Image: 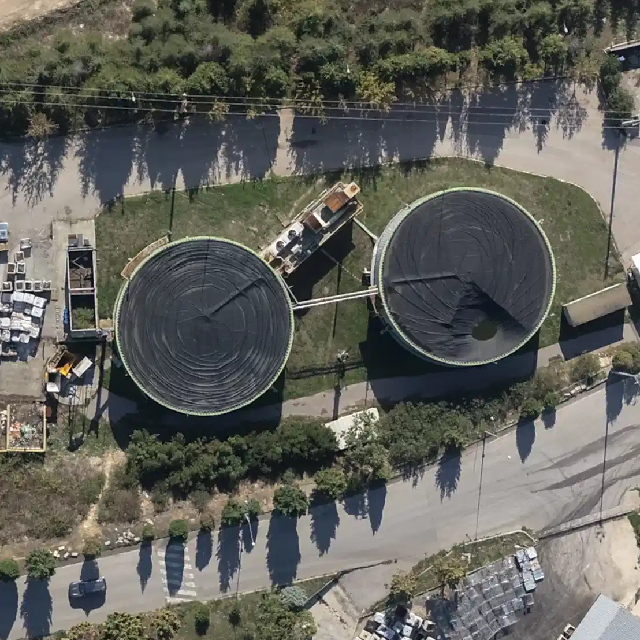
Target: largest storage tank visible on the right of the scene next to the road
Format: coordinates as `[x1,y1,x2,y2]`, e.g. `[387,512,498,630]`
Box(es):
[371,189,555,366]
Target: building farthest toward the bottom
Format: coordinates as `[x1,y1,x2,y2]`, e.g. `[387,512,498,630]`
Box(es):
[563,593,640,640]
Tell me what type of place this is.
industrial area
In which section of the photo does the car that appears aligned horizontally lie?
bottom left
